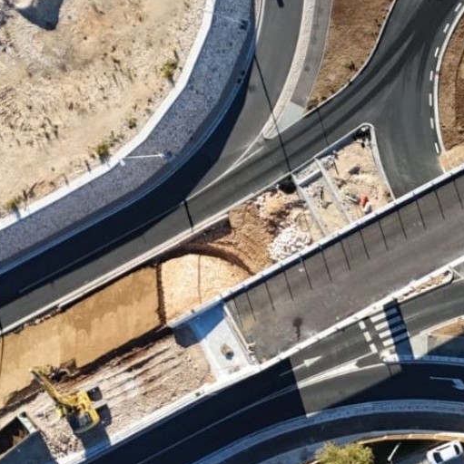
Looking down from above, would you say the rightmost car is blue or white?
white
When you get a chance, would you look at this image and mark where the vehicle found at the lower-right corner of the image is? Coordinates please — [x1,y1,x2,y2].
[425,440,463,464]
